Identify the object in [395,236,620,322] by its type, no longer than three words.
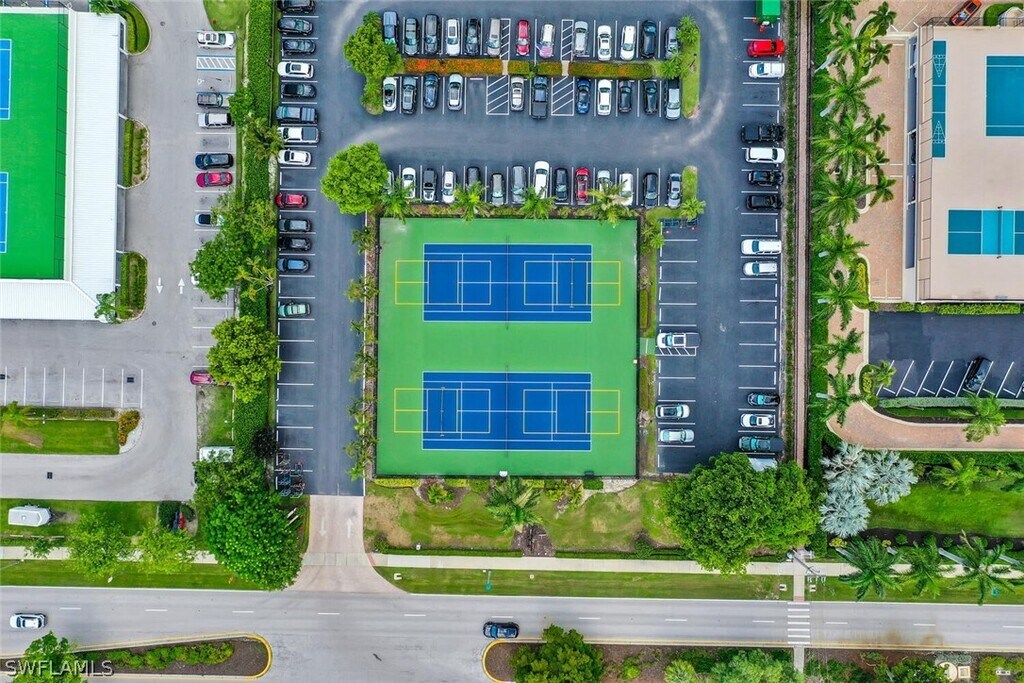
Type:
tennis court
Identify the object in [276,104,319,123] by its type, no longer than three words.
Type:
vehicle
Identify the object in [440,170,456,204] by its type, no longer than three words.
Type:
car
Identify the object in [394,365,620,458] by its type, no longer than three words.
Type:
tennis court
